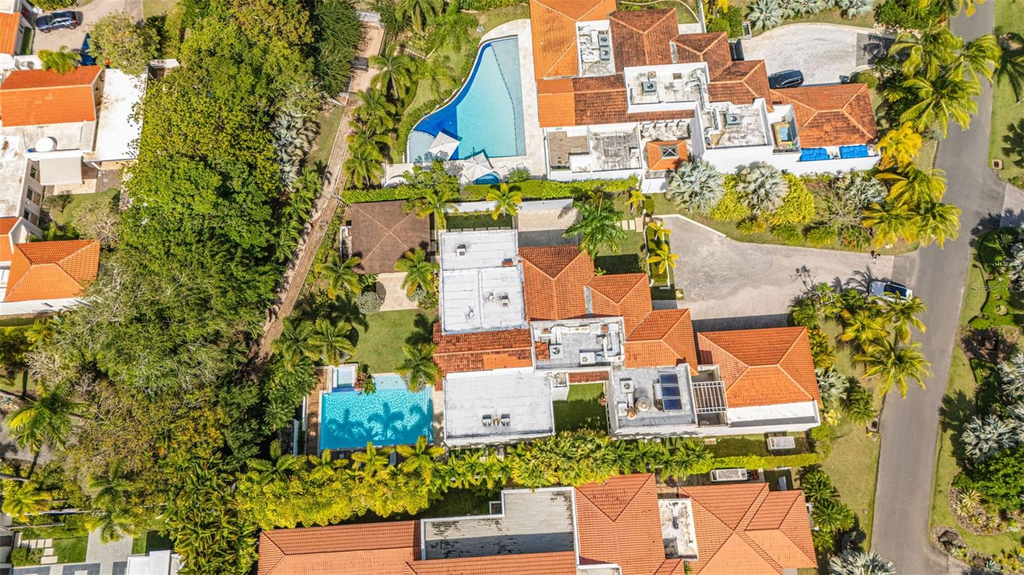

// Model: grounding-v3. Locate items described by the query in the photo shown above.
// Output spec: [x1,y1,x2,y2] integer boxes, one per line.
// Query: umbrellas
[426,135,461,163]
[459,152,495,182]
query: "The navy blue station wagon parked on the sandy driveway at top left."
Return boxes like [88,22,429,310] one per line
[37,10,77,31]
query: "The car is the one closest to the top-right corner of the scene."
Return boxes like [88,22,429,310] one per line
[767,69,807,89]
